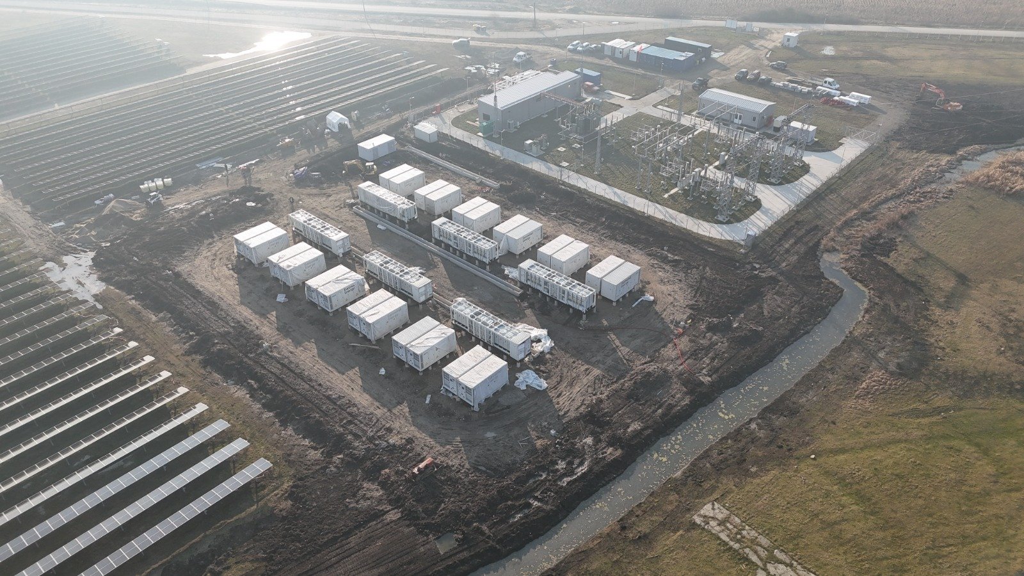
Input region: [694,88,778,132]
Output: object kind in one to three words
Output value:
building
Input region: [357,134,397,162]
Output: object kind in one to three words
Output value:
building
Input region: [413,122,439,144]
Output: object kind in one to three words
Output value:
shed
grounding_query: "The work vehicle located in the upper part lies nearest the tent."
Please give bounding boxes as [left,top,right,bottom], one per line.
[345,156,378,177]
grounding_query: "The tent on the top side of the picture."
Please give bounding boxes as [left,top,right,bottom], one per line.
[322,109,350,132]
